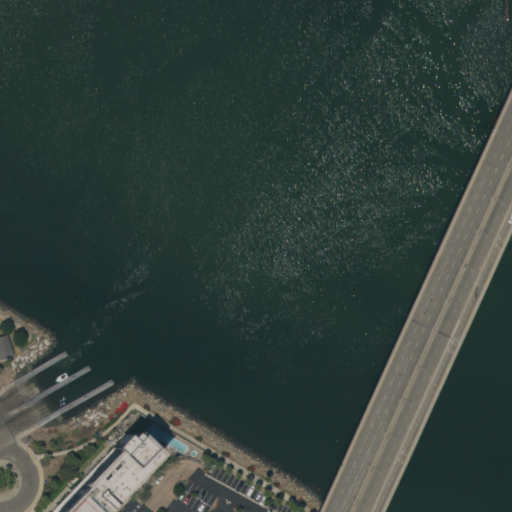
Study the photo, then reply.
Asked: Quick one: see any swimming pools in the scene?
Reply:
Yes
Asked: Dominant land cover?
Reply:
water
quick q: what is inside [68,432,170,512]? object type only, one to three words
building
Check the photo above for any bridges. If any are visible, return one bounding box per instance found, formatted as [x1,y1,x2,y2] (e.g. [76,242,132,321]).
[321,96,512,512]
